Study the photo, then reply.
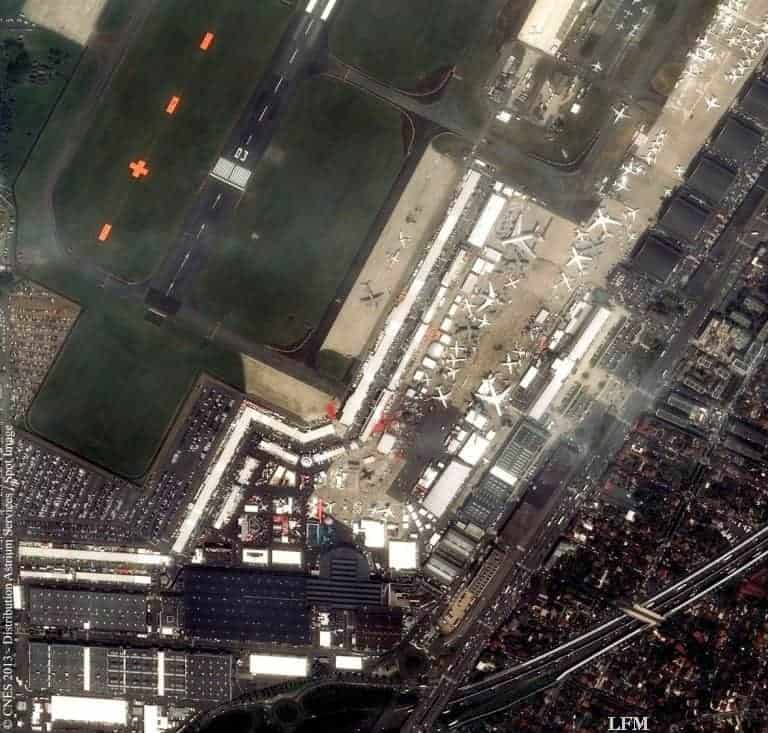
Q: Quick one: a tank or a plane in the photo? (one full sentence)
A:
The image shows a plane.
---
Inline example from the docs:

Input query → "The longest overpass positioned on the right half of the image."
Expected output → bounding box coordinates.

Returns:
[592,590,697,638]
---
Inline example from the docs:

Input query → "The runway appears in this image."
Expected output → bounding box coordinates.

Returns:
[145,0,346,317]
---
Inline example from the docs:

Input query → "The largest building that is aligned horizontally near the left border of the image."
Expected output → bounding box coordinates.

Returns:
[26,645,232,704]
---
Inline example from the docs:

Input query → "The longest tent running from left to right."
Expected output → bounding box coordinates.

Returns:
[19,547,166,565]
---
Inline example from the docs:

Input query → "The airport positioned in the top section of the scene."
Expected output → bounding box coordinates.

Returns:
[0,0,768,542]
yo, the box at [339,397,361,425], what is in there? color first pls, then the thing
white tent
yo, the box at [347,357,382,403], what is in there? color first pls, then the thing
white tent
